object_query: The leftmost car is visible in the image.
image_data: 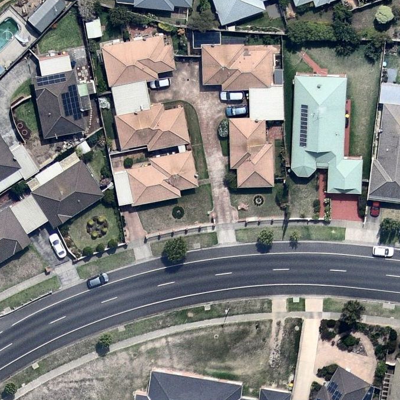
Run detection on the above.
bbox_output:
[48,232,67,257]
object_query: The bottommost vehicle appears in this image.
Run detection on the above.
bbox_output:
[85,273,109,288]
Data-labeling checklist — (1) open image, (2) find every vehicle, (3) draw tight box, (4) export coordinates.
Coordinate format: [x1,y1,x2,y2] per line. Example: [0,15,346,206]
[48,232,67,257]
[149,77,171,88]
[225,106,248,116]
[220,91,245,102]
[85,273,109,288]
[371,245,394,256]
